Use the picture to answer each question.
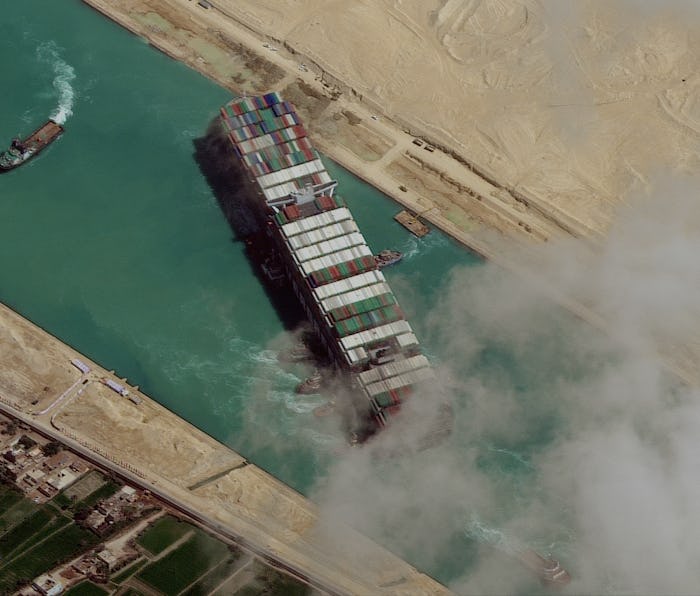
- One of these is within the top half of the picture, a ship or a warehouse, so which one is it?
ship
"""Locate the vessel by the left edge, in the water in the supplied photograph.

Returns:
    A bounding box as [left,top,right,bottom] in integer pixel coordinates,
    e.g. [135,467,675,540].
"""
[0,116,58,170]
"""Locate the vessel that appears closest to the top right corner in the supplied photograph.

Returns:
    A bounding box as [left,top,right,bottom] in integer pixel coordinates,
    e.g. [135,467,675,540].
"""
[394,207,429,236]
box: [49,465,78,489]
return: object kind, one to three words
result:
house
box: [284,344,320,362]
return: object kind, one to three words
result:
boat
